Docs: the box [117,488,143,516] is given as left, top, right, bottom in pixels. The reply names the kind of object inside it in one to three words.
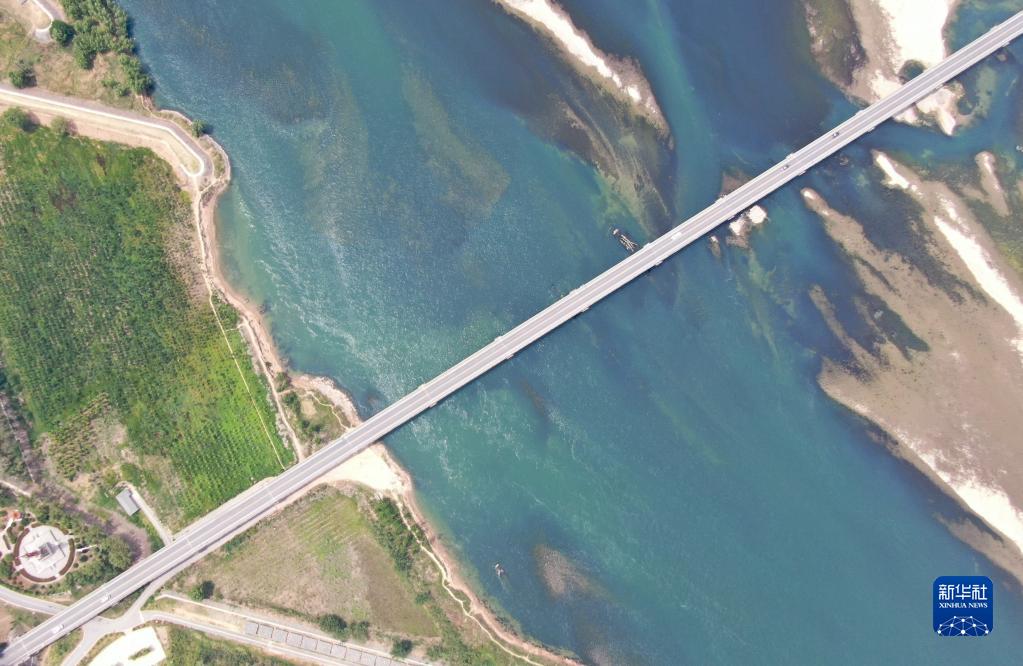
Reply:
shed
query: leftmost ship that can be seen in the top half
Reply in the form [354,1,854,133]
[611,227,635,251]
